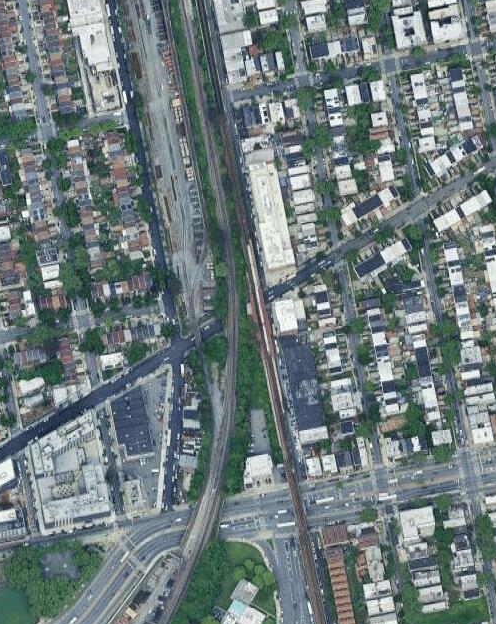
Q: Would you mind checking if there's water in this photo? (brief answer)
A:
No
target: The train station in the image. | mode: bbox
[244,240,285,402]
